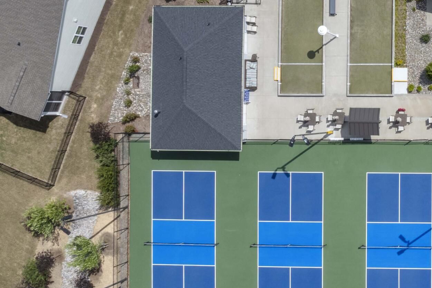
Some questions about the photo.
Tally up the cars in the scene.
0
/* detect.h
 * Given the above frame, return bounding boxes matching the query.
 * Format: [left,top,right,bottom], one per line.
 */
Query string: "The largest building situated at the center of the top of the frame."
[150,5,247,152]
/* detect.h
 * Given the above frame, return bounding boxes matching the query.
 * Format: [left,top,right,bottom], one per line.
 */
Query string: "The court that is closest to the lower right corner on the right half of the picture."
[366,173,432,288]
